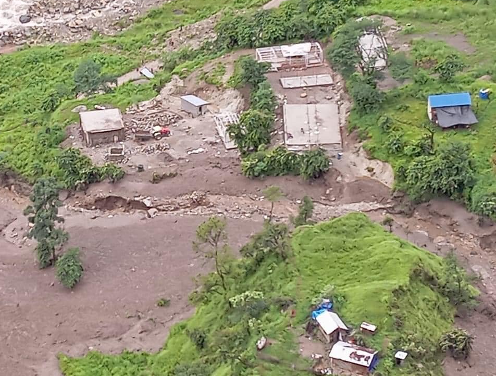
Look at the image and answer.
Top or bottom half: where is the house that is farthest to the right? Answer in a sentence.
The house that is farthest to the right is in the top half of the image.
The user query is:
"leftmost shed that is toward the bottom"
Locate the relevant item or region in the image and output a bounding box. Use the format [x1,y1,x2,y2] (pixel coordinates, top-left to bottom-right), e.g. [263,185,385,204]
[317,310,347,343]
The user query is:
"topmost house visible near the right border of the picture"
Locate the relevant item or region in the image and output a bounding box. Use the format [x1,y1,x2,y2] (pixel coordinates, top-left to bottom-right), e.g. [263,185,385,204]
[424,85,482,127]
